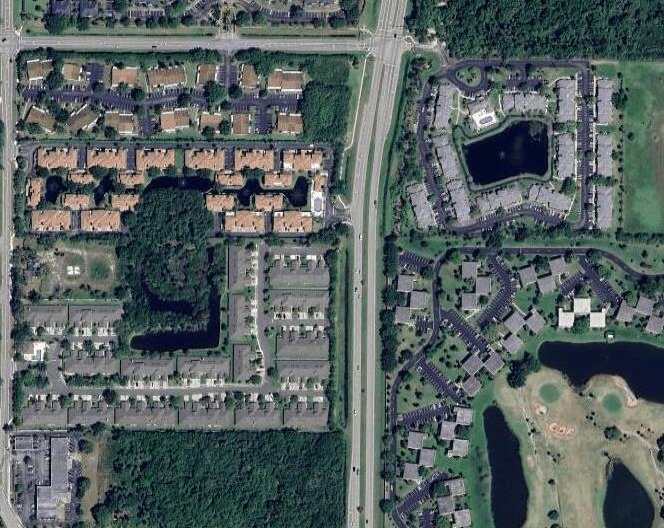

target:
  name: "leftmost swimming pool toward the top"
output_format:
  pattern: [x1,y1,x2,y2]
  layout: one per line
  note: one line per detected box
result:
[312,193,325,216]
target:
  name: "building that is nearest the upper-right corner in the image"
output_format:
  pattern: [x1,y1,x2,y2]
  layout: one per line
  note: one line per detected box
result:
[597,80,615,124]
